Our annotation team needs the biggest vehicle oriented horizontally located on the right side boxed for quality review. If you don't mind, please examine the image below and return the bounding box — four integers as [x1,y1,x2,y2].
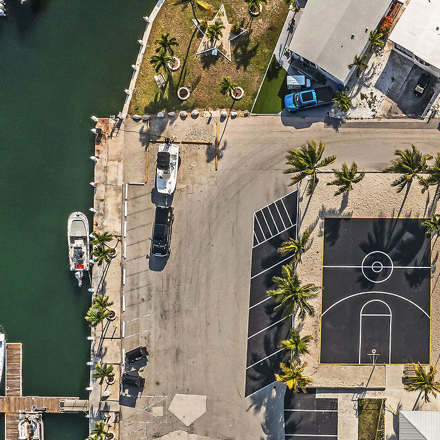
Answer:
[282,87,335,114]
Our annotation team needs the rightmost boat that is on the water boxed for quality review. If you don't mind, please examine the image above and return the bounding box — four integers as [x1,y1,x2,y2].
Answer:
[67,211,90,284]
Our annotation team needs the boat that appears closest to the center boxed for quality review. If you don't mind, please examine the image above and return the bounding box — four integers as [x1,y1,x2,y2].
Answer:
[154,133,179,194]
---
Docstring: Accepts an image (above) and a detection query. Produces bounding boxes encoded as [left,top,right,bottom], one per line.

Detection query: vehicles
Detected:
[123,348,150,365]
[282,87,335,114]
[288,74,310,93]
[121,374,148,389]
[413,74,430,100]
[150,204,176,259]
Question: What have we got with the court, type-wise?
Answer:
basketball court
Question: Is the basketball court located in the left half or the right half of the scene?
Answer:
right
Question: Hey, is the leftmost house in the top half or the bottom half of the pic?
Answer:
top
